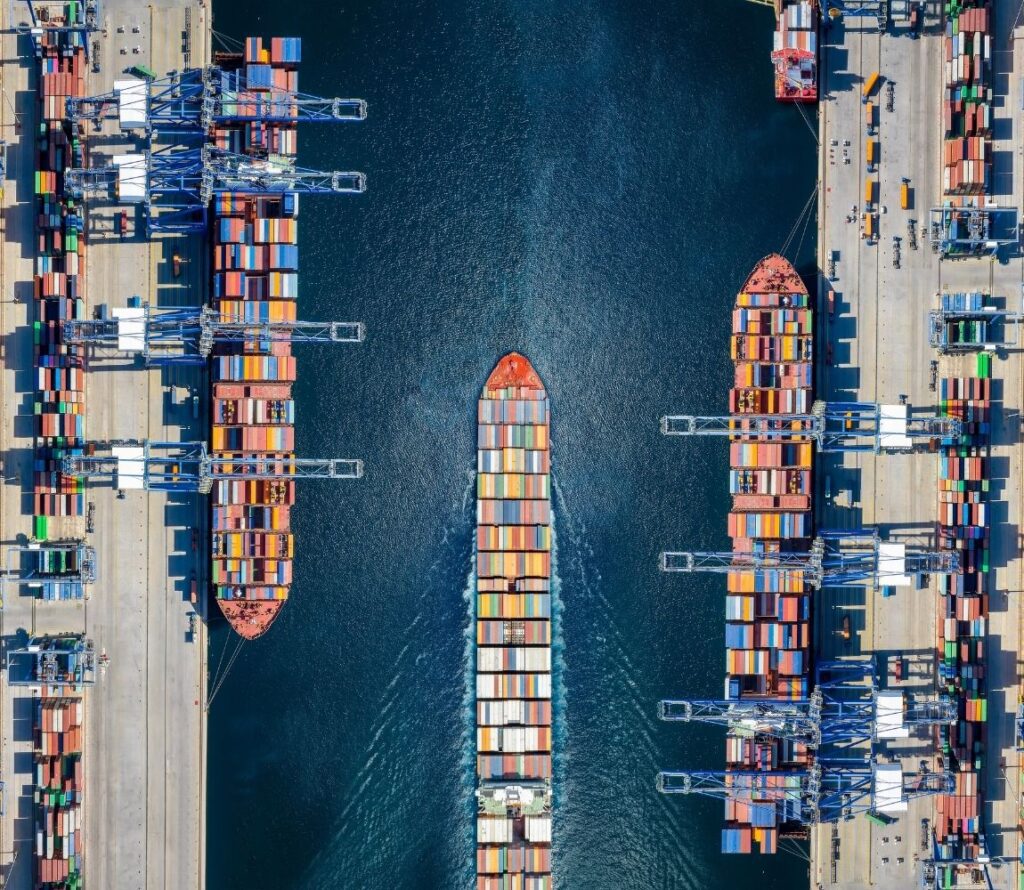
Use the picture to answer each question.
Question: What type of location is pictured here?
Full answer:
The area seen from above is a port.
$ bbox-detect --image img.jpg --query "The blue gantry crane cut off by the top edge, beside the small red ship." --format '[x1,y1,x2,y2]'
[811,0,886,20]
